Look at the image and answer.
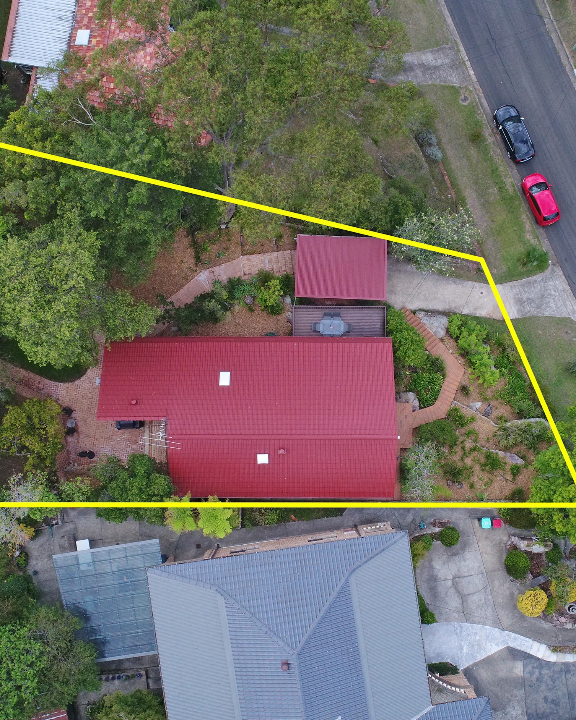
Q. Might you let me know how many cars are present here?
2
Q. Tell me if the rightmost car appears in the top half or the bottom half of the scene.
top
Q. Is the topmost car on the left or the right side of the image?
right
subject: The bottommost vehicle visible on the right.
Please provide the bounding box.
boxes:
[522,172,560,229]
